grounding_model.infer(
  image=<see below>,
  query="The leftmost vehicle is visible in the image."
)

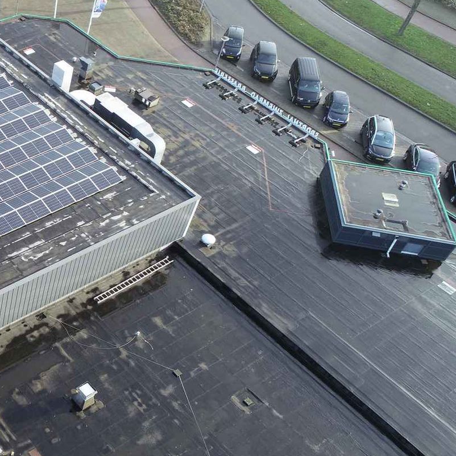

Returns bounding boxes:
[218,20,246,60]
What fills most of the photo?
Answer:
buildings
